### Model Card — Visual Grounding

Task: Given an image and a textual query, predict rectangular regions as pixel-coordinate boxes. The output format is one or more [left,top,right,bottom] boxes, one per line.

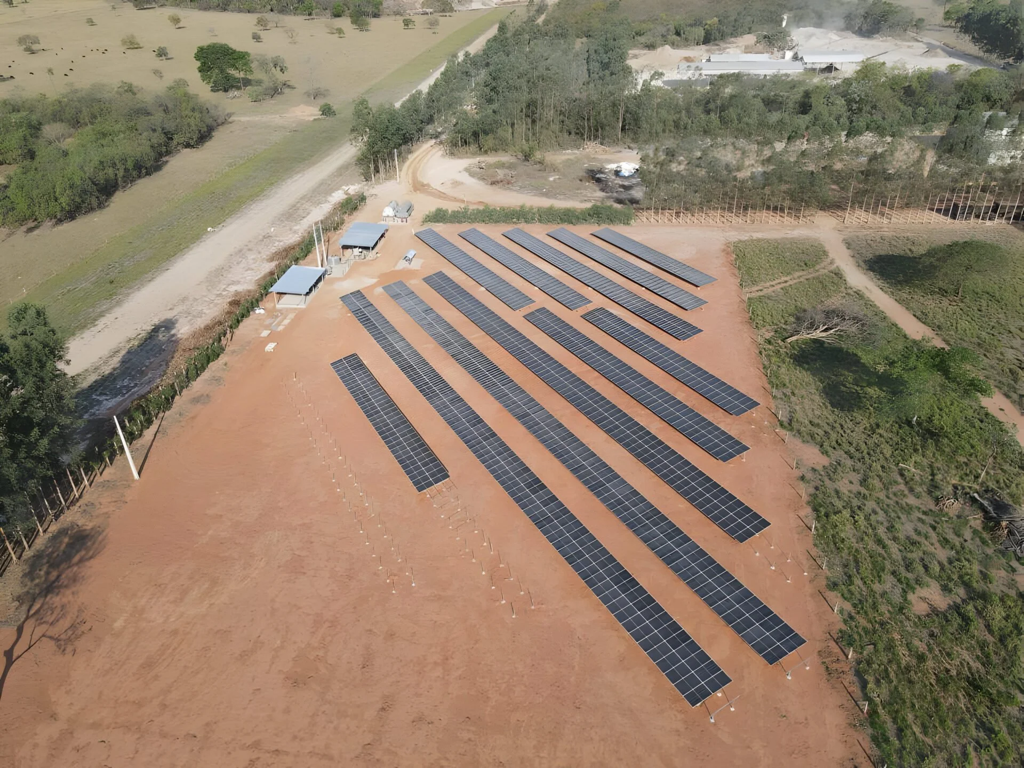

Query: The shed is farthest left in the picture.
[269,266,327,307]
